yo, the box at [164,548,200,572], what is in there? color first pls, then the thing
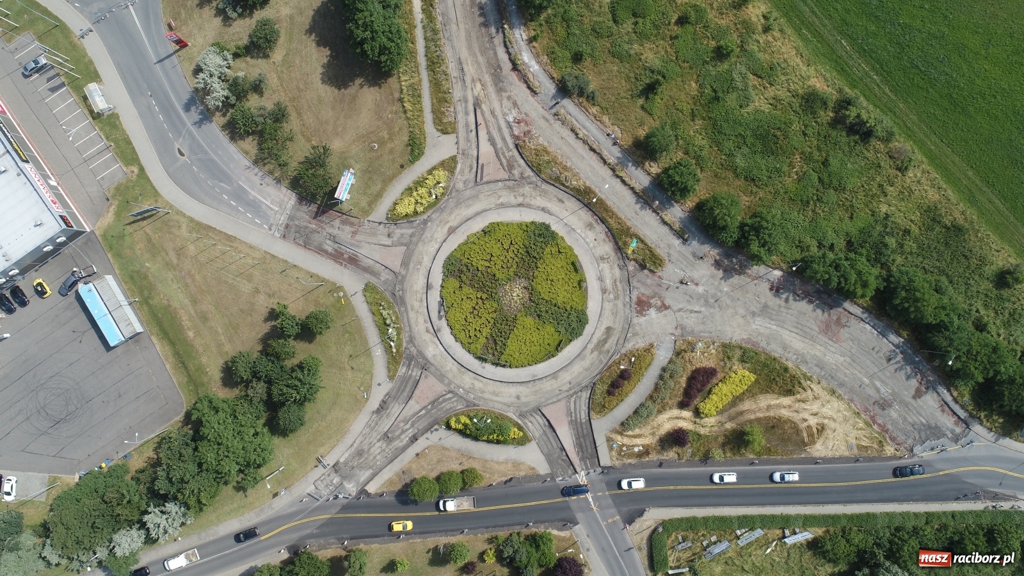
white truck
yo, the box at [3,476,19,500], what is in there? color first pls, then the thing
white car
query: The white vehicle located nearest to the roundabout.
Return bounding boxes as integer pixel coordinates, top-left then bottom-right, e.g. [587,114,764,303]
[620,478,644,491]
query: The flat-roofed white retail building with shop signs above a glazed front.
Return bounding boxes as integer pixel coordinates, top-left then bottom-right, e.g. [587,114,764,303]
[0,100,92,293]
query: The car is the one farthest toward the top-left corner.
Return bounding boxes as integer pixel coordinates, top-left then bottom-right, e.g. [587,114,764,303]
[23,57,47,76]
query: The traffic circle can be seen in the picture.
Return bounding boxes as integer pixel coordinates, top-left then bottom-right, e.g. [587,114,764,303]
[329,106,631,473]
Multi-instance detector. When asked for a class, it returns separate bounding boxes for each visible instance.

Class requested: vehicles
[164,548,200,572]
[390,520,413,532]
[10,284,31,307]
[712,472,737,483]
[0,472,5,494]
[620,478,644,491]
[894,464,922,478]
[60,272,79,296]
[23,57,47,76]
[771,471,798,483]
[562,484,588,495]
[3,476,19,500]
[439,498,476,513]
[236,525,260,541]
[0,290,19,313]
[35,277,52,298]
